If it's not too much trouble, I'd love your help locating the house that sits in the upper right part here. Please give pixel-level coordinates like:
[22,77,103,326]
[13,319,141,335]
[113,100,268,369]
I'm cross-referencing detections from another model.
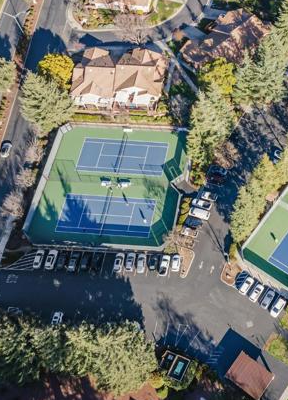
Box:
[170,7,268,75]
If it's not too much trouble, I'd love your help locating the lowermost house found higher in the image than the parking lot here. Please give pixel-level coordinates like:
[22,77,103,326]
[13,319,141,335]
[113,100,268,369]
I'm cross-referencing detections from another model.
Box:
[70,46,167,109]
